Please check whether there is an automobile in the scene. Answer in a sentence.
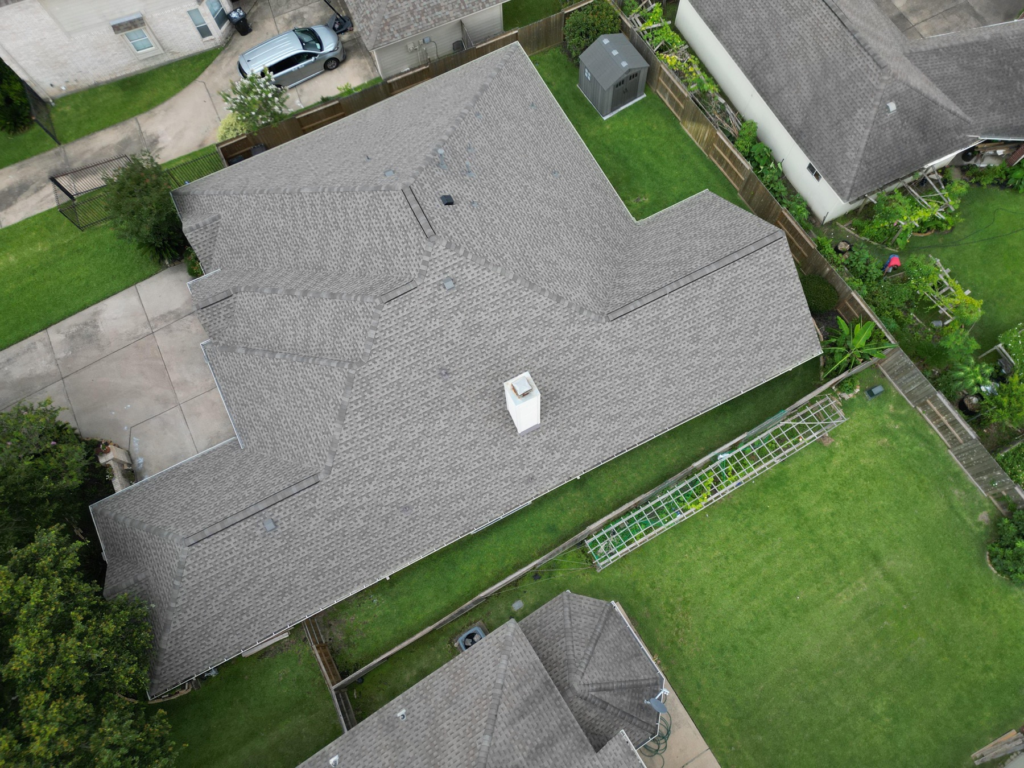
Yes, the image includes an automobile.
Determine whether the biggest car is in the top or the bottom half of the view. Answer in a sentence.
The top half of the photo is where the biggest car is.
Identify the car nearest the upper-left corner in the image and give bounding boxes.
[236,22,346,88]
